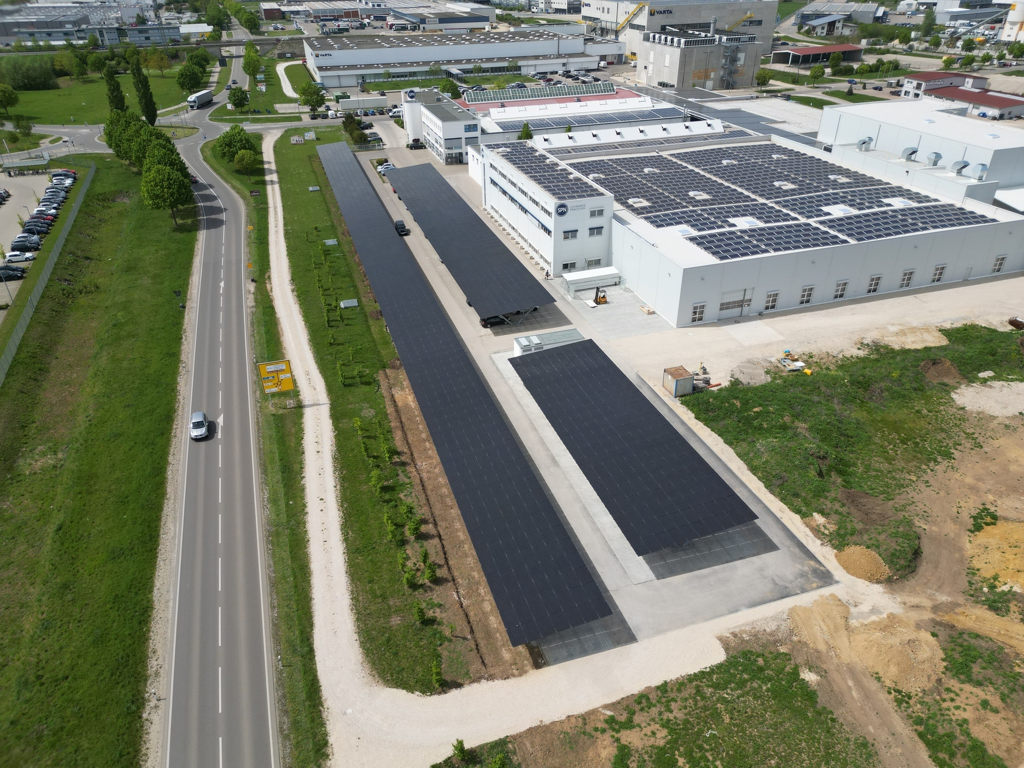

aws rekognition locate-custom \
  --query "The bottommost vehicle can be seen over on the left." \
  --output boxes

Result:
[188,410,211,439]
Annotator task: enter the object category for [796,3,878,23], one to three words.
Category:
building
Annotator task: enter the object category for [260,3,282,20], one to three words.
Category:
building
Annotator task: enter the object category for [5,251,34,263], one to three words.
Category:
vehicle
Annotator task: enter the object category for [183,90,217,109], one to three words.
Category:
vehicle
